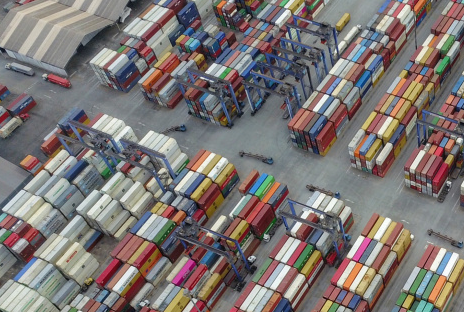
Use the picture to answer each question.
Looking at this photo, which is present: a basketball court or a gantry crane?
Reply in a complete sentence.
Of the two, only a gantry crane appears.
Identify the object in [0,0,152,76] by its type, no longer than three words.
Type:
building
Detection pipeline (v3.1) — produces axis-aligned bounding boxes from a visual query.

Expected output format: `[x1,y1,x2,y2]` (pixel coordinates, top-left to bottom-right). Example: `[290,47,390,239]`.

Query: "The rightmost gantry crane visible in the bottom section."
[277,197,349,266]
